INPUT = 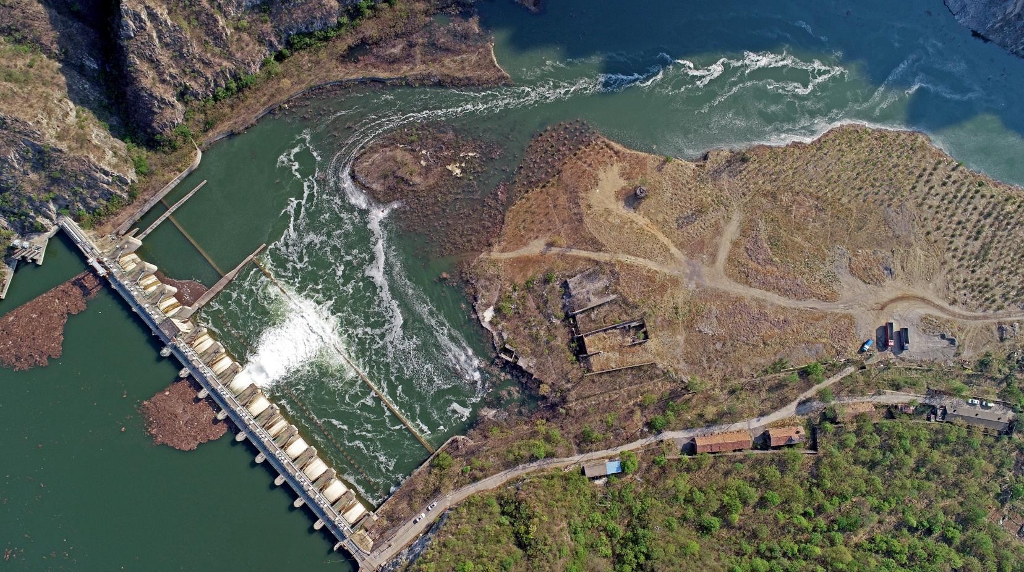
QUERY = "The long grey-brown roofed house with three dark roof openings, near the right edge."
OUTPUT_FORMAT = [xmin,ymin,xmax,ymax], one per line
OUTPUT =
[924,404,1013,431]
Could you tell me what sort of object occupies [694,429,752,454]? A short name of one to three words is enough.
house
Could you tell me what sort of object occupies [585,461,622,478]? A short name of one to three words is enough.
shed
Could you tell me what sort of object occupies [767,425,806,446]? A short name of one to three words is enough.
house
